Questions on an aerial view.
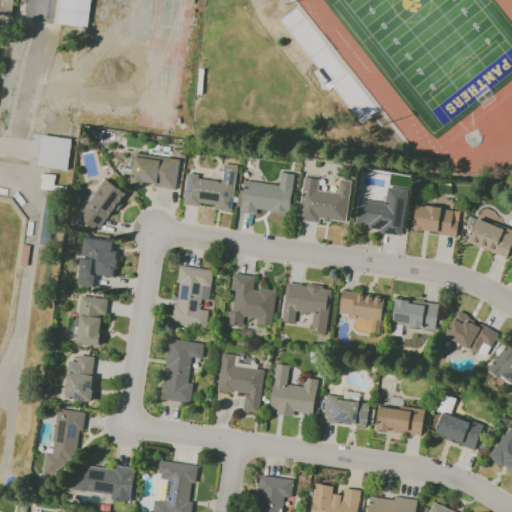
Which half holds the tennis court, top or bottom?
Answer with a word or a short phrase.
top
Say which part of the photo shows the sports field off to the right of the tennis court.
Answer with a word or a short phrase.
top right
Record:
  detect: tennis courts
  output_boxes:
[138,0,188,127]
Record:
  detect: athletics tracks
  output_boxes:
[298,0,512,174]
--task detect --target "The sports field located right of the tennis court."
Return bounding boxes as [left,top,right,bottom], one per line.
[325,0,512,140]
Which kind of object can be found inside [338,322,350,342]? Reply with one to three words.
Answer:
swimming pool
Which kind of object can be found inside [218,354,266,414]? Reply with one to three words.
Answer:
house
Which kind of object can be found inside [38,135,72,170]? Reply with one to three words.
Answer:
building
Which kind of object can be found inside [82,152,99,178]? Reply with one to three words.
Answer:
swimming pool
